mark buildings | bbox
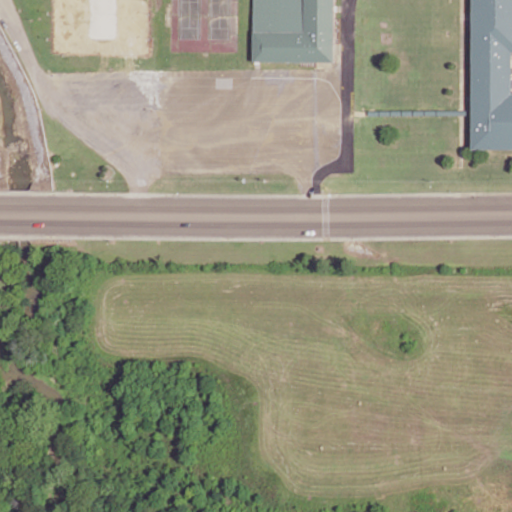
[470,0,512,150]
[252,0,334,62]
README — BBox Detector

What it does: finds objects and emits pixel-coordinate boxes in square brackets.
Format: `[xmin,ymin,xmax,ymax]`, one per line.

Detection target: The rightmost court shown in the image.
[206,0,238,52]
